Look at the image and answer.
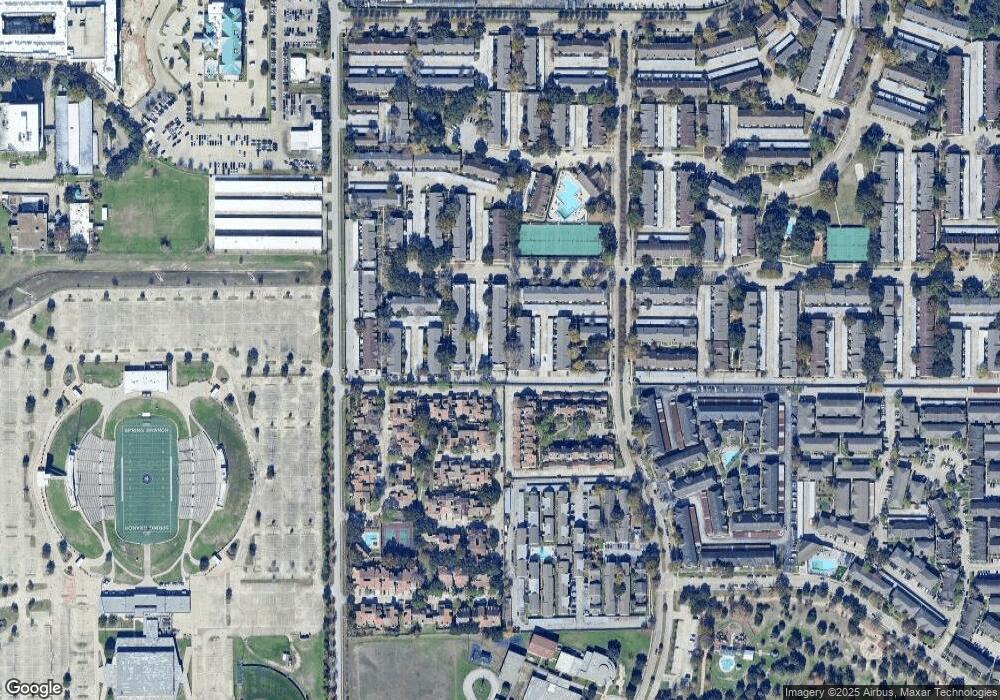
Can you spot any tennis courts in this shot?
Yes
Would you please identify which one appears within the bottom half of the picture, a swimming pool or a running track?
swimming pool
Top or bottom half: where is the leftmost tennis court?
bottom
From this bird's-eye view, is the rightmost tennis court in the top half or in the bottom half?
top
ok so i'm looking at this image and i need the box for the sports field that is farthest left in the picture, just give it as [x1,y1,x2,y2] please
[115,417,179,545]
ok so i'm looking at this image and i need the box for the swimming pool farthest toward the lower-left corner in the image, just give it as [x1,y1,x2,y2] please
[363,531,379,549]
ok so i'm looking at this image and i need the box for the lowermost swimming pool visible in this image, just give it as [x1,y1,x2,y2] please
[719,656,735,672]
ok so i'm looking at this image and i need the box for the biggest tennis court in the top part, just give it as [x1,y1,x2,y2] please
[519,224,602,256]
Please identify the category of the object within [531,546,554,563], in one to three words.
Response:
swimming pool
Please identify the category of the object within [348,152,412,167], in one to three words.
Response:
building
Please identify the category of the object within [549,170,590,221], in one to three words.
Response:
swimming pool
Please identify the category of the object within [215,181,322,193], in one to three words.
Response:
shed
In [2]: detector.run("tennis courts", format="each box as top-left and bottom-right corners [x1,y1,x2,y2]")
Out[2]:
[382,523,413,557]
[519,224,602,256]
[826,226,868,262]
